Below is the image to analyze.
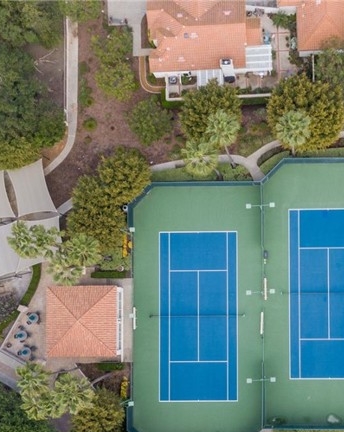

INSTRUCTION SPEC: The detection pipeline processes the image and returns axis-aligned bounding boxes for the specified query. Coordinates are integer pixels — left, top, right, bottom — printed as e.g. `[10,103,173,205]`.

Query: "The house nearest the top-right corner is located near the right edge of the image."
[277,0,344,54]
